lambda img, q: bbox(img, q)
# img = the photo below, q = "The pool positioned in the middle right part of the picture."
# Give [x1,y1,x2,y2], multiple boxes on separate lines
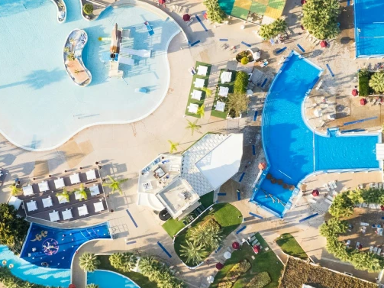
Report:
[249,49,383,219]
